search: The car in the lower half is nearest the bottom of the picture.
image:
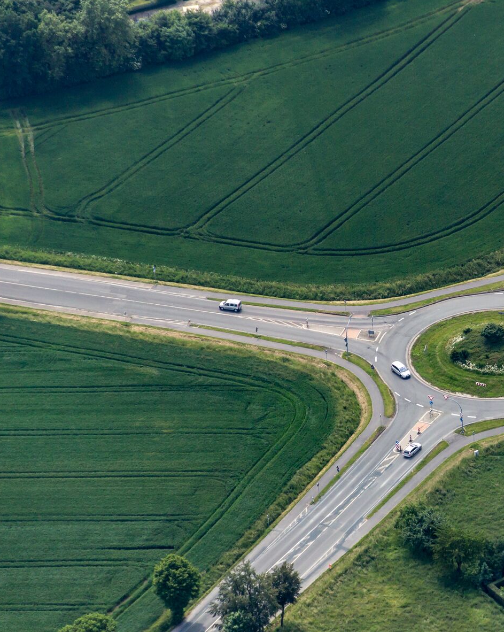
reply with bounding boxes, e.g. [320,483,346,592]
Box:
[402,442,423,460]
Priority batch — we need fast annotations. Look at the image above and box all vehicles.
[402,442,423,460]
[391,361,410,379]
[219,301,242,313]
